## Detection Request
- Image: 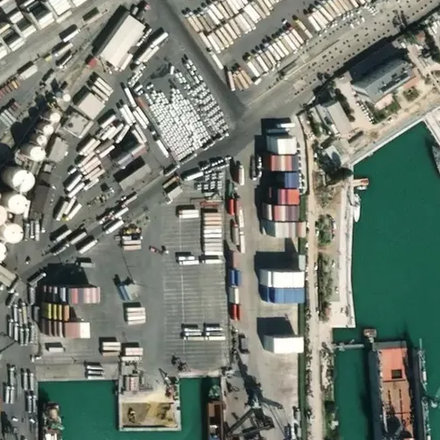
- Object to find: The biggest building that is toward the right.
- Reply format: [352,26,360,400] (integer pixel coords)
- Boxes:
[344,59,413,101]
